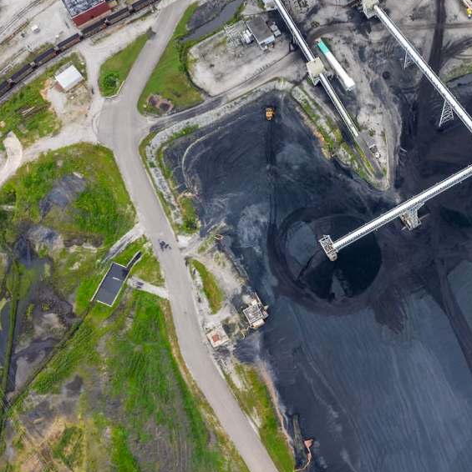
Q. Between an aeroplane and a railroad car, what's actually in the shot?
railroad car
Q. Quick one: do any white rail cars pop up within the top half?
No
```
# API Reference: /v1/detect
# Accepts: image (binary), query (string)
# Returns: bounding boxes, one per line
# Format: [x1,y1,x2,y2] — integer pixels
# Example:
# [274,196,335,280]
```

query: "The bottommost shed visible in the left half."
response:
[55,65,86,94]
